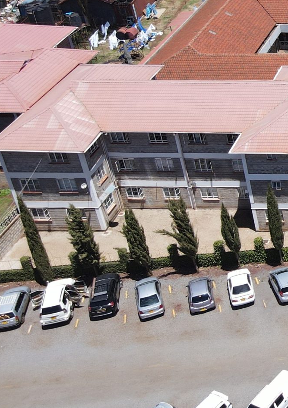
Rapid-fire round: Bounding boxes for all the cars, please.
[36,273,91,326]
[184,272,215,314]
[87,269,129,319]
[131,271,166,322]
[0,281,39,327]
[243,368,288,408]
[224,264,255,308]
[268,264,288,303]
[187,386,235,408]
